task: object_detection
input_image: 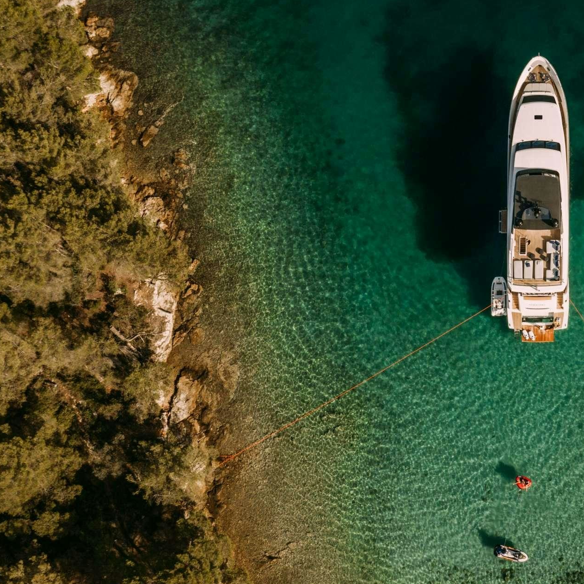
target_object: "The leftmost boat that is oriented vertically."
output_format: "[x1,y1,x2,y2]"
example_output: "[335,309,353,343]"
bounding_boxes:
[490,277,507,316]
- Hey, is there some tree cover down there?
Yes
